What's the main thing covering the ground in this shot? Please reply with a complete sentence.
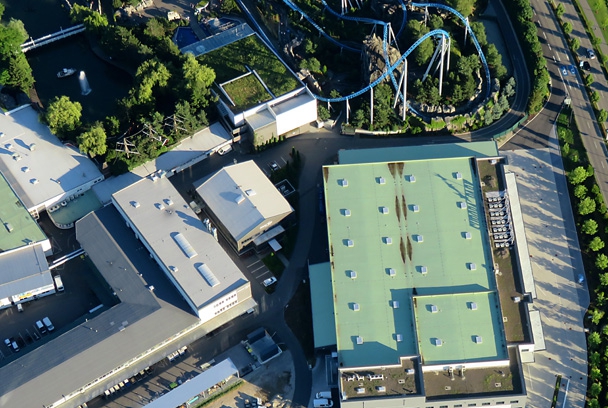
What you mostly see from above here is buildings.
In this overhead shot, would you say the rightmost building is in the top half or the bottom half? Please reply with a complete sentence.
The bottom half of the photo is where the rightmost building is.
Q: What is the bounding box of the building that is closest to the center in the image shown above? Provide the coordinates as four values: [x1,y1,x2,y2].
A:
[200,160,294,255]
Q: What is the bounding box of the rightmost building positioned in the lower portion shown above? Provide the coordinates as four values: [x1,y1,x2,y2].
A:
[309,141,545,408]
